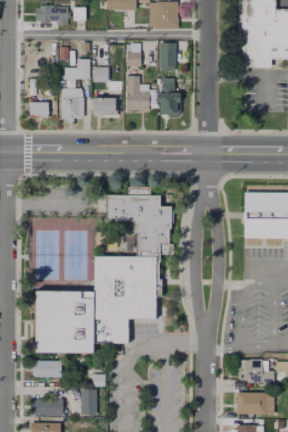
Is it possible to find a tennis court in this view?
Yes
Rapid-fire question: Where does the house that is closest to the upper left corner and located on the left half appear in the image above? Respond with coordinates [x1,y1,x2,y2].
[36,6,70,26]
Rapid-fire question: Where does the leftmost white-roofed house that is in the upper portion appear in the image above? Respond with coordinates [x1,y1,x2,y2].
[30,102,50,118]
